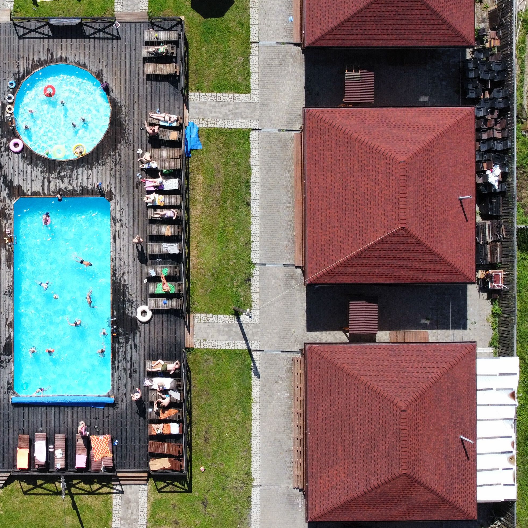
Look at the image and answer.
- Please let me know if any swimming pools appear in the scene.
Yes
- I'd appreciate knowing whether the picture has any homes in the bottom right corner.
Yes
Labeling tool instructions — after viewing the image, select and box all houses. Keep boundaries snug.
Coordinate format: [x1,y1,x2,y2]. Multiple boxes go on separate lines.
[301,341,479,523]
[299,106,478,286]
[299,0,477,49]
